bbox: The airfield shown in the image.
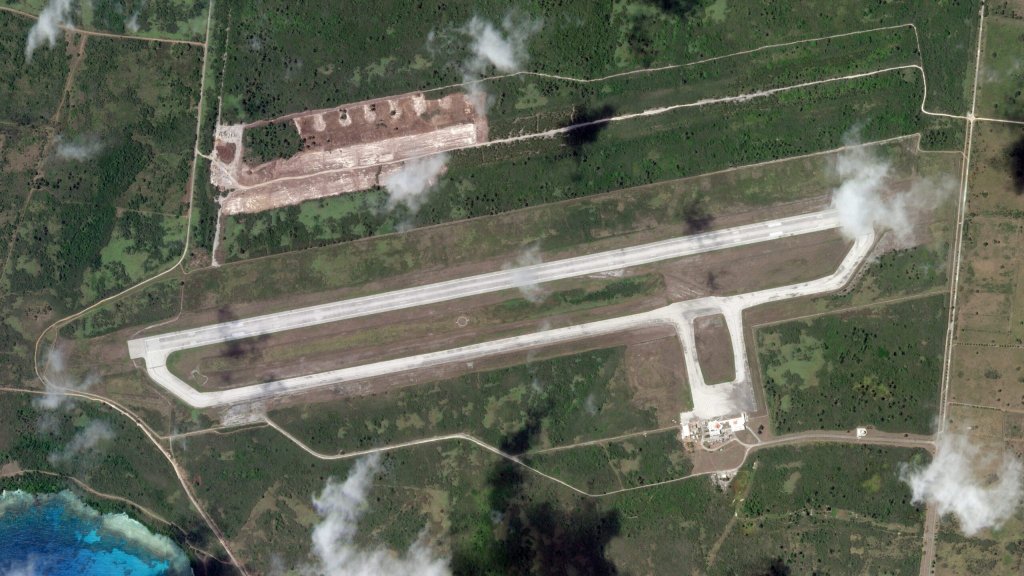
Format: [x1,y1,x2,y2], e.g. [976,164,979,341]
[128,203,874,425]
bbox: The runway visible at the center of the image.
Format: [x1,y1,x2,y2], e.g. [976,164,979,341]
[145,203,872,356]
